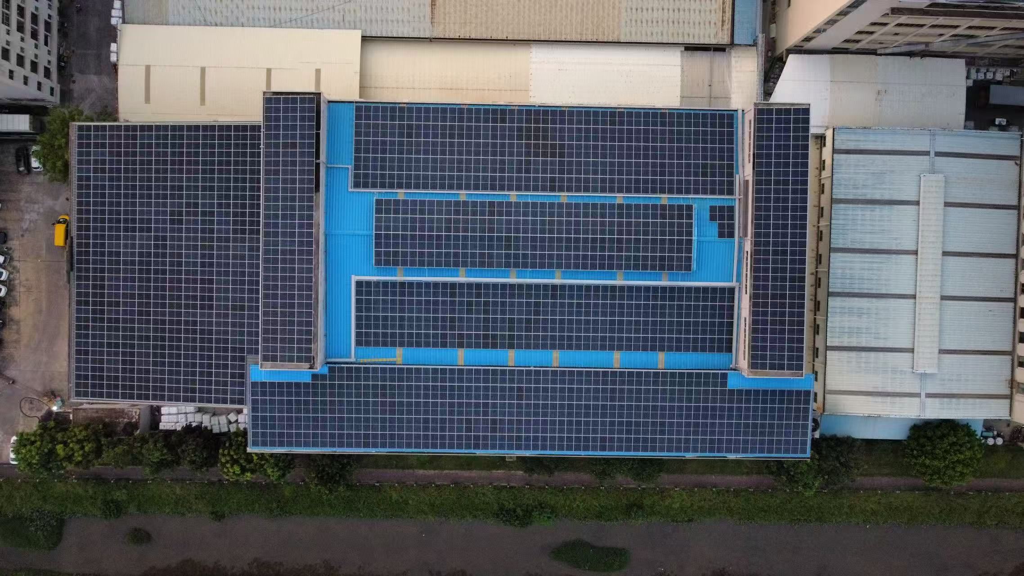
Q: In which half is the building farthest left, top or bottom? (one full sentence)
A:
The building farthest left is in the top half of the image.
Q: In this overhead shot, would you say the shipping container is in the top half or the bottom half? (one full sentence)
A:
You can find the shipping container in the top half.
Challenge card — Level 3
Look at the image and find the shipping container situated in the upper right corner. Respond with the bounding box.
[981,85,1024,110]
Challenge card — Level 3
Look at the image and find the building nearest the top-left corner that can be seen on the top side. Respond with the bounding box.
[0,0,59,103]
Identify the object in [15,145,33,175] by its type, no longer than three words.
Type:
car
